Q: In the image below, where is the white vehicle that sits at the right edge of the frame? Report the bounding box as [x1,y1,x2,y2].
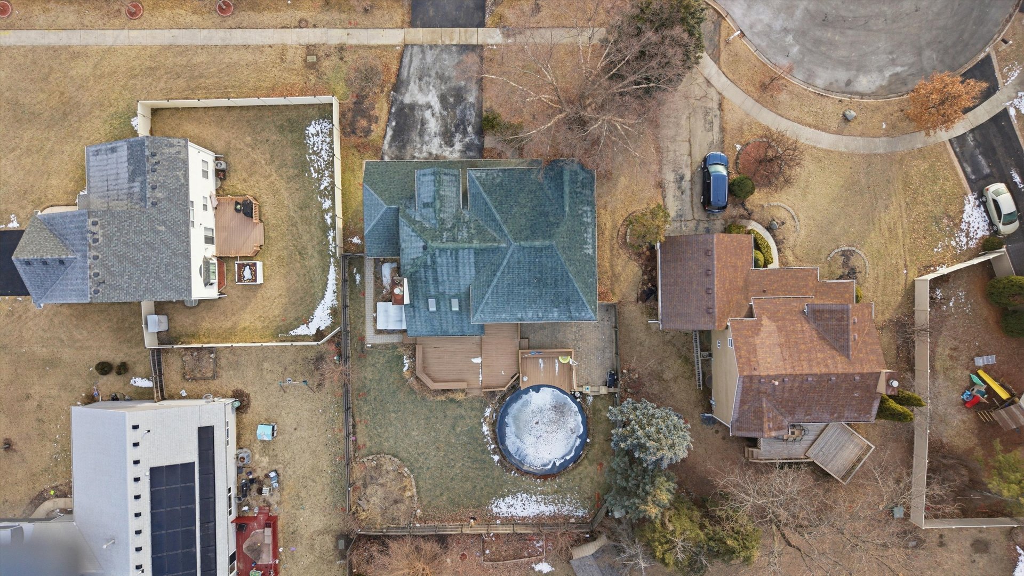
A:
[984,180,1023,238]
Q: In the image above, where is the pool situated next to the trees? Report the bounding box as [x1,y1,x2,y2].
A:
[497,384,588,475]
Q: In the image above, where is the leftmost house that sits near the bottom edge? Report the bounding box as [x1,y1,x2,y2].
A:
[22,398,237,576]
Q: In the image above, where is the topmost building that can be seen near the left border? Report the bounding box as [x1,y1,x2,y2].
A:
[12,136,227,303]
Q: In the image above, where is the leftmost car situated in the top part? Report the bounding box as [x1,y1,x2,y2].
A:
[702,152,733,213]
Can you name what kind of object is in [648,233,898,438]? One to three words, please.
house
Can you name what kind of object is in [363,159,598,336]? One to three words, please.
house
